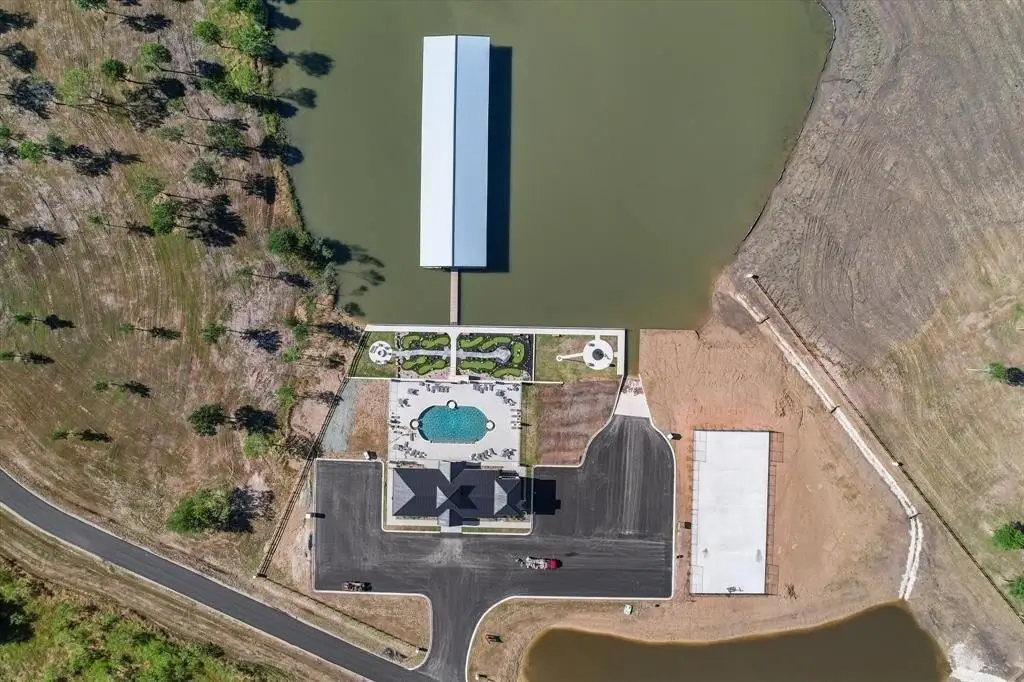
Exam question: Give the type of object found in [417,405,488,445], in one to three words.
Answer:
swimming pool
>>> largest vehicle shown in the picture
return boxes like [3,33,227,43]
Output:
[526,559,558,571]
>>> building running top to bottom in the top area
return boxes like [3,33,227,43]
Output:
[420,34,491,269]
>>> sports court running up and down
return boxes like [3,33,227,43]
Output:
[690,430,775,600]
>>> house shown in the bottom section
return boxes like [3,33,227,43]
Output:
[393,461,524,527]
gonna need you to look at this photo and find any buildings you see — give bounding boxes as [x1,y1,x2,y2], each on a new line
[420,34,491,269]
[393,461,524,527]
